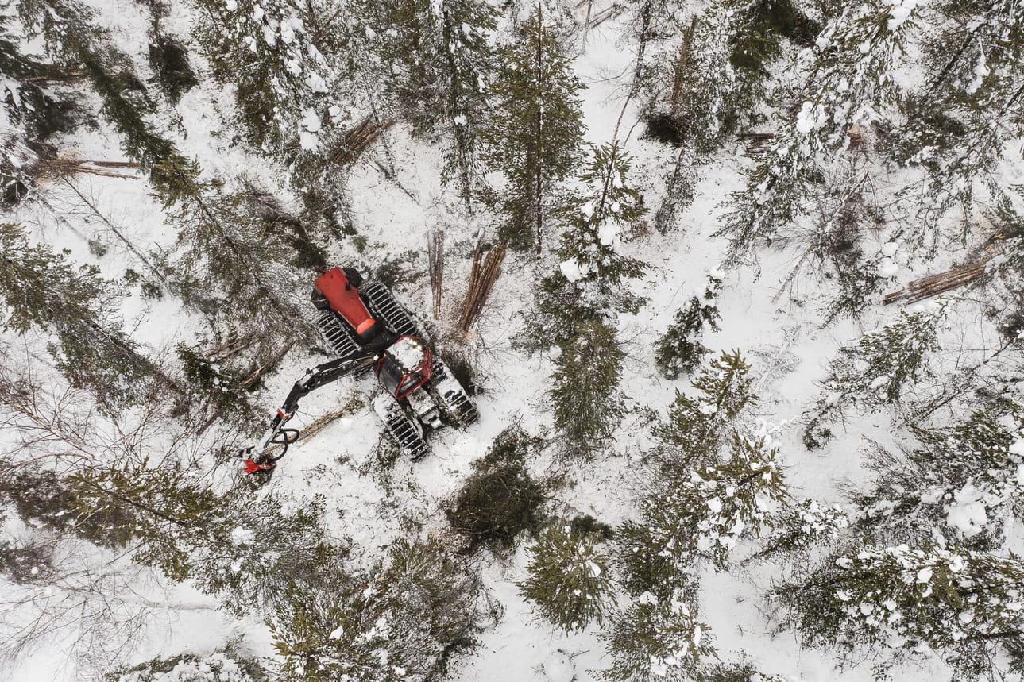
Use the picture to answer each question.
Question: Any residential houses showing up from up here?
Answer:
No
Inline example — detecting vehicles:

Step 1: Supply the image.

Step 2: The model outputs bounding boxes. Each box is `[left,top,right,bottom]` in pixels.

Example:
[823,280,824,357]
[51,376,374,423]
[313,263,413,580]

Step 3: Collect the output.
[240,263,488,480]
